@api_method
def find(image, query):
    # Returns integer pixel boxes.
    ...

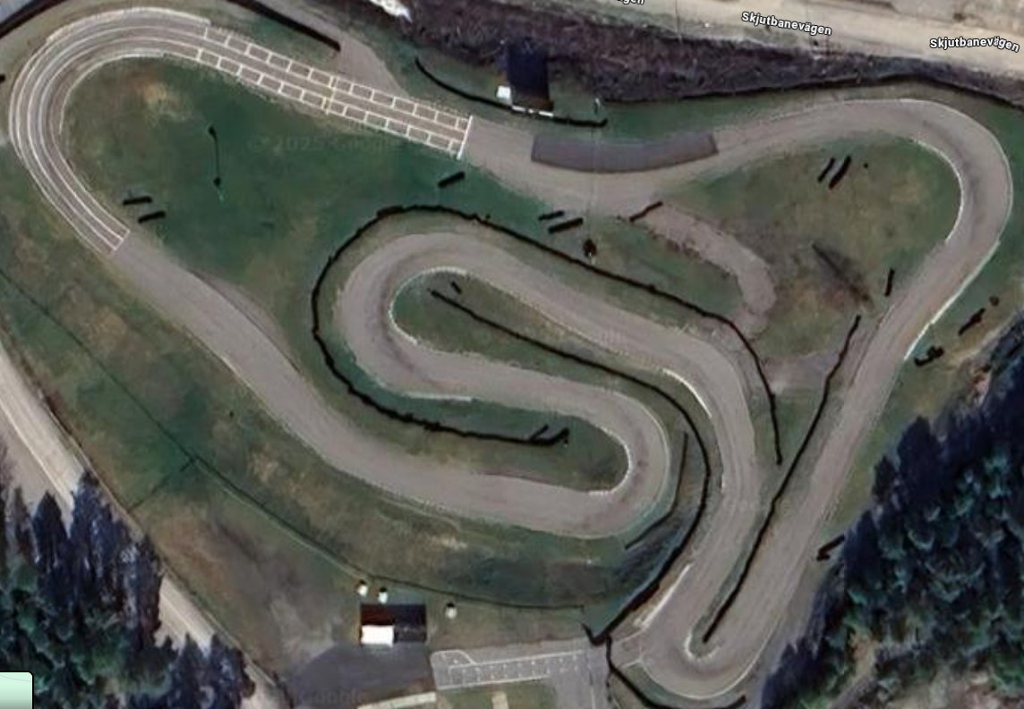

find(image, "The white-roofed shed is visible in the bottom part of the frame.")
[360,620,392,644]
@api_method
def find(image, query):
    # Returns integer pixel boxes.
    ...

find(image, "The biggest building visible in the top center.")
[509,85,552,113]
